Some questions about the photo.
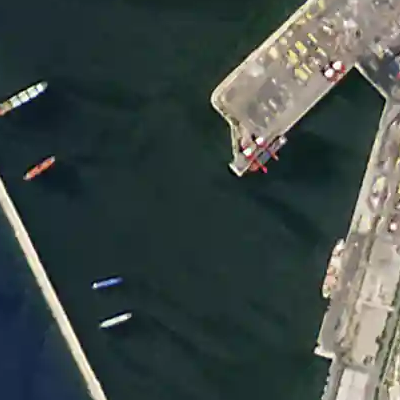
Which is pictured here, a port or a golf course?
port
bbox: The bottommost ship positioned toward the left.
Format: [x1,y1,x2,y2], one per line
[99,312,133,327]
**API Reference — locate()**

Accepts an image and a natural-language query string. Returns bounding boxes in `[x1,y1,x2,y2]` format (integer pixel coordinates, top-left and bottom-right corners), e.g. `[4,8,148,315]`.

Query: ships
[0,83,48,113]
[99,312,133,327]
[22,157,55,180]
[92,278,123,289]
[324,239,346,299]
